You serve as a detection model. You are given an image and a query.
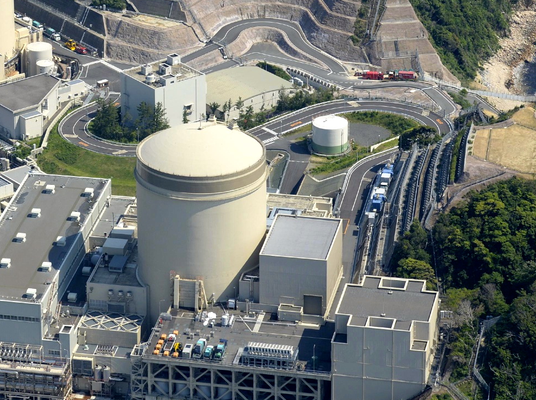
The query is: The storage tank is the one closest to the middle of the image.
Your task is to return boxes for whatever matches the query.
[312,113,348,153]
